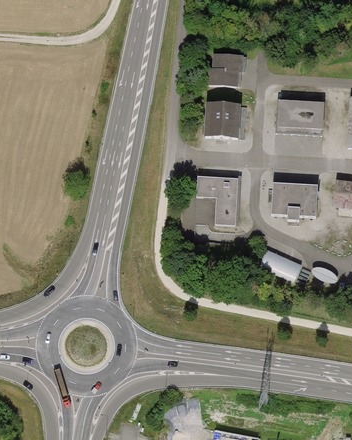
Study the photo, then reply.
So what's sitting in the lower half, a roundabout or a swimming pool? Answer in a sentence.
The feature located in the lower half is a roundabout.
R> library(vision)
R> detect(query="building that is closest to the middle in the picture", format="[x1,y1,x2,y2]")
[196,176,240,228]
